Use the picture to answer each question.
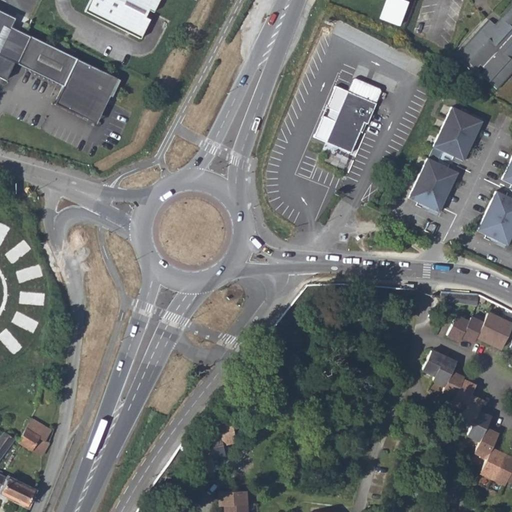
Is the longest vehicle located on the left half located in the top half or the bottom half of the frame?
bottom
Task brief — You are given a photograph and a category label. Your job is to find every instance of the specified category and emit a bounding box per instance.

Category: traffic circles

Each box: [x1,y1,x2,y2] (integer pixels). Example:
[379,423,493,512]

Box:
[131,170,254,293]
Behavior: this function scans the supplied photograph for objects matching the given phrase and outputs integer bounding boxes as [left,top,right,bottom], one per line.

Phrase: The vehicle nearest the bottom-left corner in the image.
[87,418,107,460]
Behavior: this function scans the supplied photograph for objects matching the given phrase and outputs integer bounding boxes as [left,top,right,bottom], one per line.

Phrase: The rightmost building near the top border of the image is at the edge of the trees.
[462,6,512,88]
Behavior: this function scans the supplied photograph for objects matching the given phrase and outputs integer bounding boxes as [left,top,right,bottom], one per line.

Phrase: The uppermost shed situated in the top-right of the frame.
[378,0,410,28]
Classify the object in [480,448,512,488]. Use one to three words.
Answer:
house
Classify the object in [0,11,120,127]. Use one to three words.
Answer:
building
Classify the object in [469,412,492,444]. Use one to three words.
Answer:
house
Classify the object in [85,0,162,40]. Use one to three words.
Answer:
building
